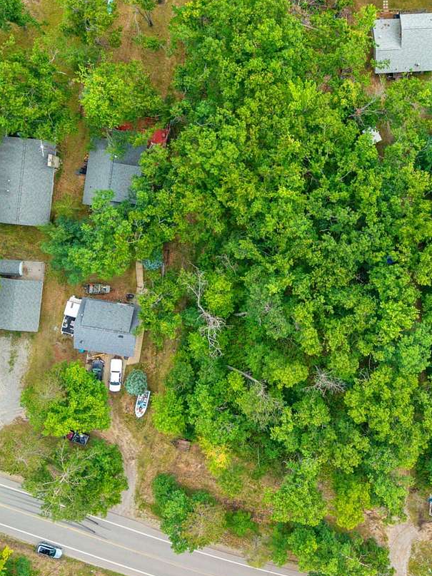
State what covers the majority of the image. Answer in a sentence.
The largest share of the image is taken up by trees.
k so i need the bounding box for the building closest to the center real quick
[74,296,140,356]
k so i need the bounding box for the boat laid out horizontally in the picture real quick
[82,282,116,295]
